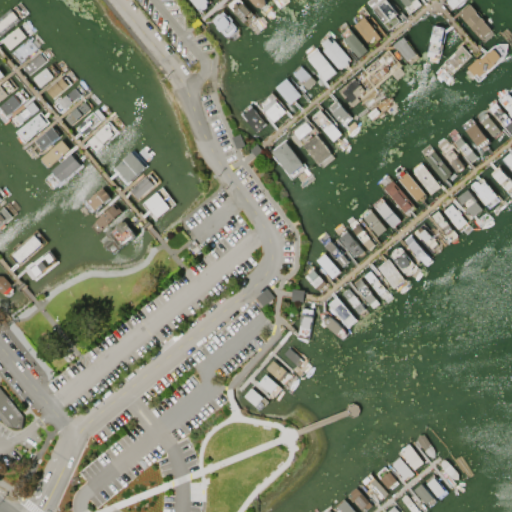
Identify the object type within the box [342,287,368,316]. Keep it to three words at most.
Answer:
boat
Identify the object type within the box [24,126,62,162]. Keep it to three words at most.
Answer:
boat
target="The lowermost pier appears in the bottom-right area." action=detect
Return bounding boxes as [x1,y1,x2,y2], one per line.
[372,444,458,512]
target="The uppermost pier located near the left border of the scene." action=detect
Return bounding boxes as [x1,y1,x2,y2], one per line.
[0,46,150,242]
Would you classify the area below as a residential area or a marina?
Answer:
marina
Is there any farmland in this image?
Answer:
No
